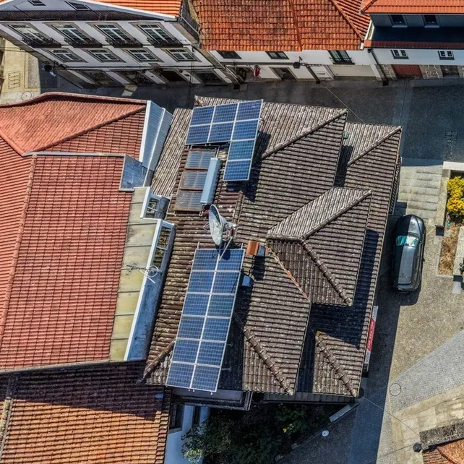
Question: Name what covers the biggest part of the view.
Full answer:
What you mostly see from above here is buildings.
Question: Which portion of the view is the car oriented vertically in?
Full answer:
You can find the car oriented vertically in the right area of the picture.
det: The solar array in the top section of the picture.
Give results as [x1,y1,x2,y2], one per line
[185,100,268,184]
